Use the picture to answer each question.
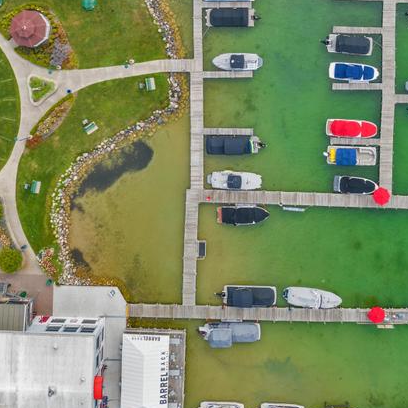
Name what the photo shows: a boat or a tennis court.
boat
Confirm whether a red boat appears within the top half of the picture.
Yes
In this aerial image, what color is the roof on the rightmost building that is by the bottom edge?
white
